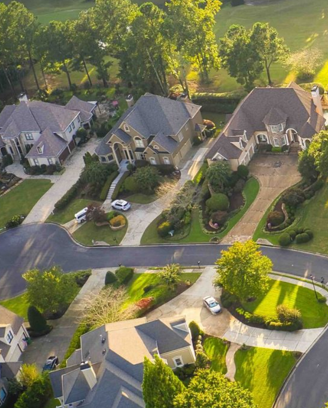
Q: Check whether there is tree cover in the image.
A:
Yes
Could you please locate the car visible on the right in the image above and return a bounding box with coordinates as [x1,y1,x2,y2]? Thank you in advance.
[202,292,221,316]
